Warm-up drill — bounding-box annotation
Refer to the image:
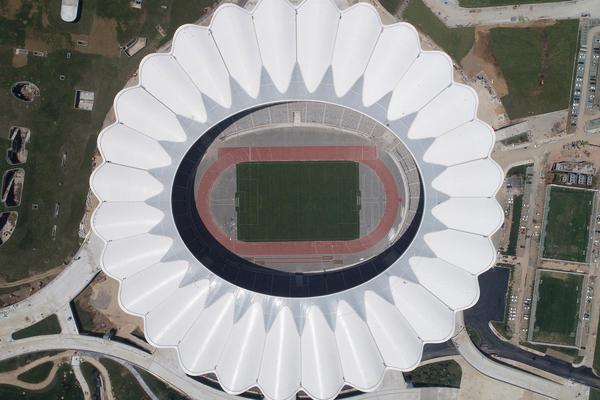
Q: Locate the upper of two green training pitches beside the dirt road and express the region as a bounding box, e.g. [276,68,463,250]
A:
[540,184,598,264]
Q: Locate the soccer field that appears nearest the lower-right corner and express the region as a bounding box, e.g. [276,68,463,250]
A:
[528,270,584,348]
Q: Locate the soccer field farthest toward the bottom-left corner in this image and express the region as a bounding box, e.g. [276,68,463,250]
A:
[236,161,359,241]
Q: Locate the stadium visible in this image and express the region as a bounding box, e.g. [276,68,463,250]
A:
[91,0,503,400]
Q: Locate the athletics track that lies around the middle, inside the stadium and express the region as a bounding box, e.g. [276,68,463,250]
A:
[196,148,399,255]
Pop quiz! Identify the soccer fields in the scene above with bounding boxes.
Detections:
[540,184,598,264]
[236,161,359,241]
[528,270,584,348]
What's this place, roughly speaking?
sports ground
